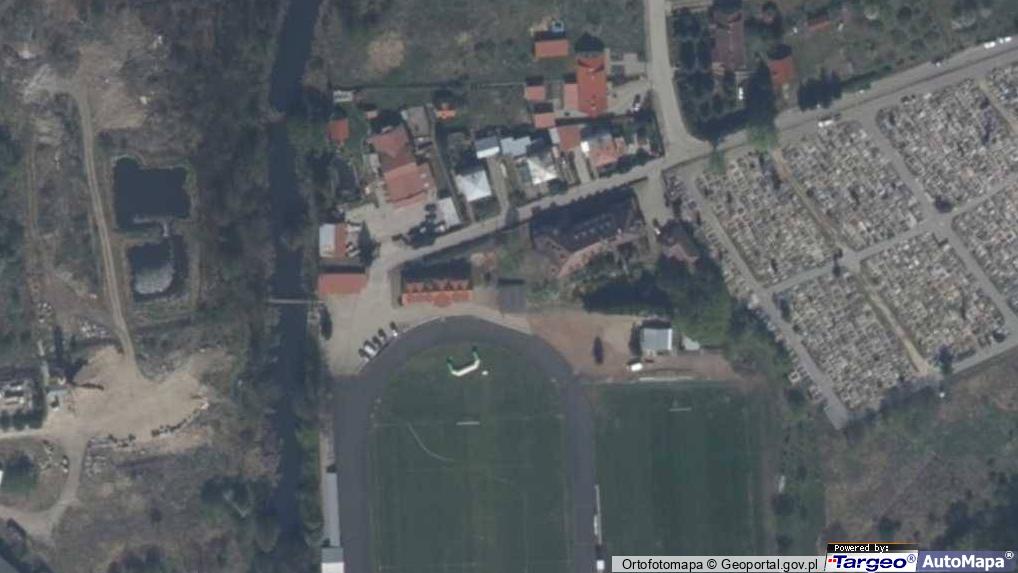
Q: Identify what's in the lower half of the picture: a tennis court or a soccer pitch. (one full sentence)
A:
Looking in the lower half of the picture, you will find a soccer pitch.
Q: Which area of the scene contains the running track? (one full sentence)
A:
You can find the running track in the bottom area of the picture.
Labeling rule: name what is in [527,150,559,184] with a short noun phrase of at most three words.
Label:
house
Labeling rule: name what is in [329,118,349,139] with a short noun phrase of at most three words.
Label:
shed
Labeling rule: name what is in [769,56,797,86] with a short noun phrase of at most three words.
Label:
building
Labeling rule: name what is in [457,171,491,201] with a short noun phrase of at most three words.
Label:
house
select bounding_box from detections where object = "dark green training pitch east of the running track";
[596,387,766,573]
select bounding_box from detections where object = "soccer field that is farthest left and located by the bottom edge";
[369,345,570,573]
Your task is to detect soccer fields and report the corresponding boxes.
[369,345,570,573]
[596,387,766,573]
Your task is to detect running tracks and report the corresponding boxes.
[333,316,598,573]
